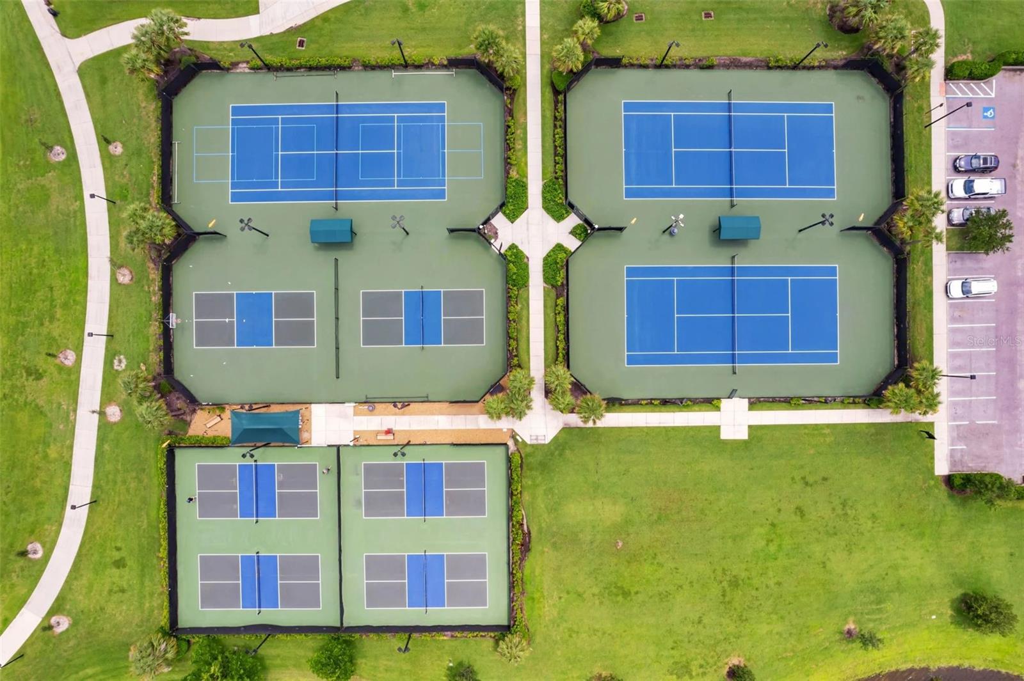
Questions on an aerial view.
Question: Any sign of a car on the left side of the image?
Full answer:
No, there is no car on the left side of the image.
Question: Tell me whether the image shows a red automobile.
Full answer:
No, the picture doesn't show any red automobile.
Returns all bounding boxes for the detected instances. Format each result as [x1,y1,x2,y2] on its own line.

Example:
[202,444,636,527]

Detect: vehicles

[947,176,1006,199]
[947,202,990,224]
[952,152,1000,174]
[946,277,997,299]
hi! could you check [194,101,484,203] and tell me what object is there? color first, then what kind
blue tennis court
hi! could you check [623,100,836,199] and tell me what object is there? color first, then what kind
blue tennis court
